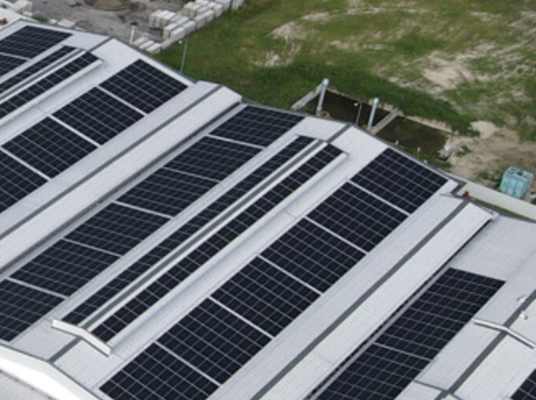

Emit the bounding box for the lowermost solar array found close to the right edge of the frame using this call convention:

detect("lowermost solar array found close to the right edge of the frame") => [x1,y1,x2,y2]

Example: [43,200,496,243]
[513,370,536,400]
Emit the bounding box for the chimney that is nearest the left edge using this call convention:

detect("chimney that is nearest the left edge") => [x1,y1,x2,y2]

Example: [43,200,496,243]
[316,77,329,113]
